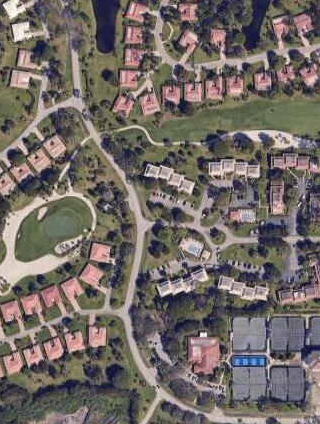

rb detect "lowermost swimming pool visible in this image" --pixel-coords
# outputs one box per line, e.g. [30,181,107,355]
[179,234,205,259]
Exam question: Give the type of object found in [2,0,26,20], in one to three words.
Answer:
house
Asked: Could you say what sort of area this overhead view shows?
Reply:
residential area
